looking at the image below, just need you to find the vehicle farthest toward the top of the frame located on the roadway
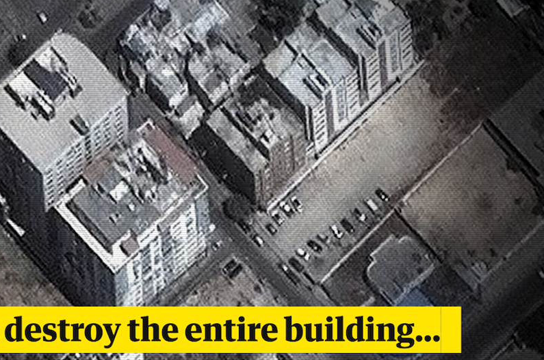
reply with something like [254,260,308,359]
[35,11,50,25]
